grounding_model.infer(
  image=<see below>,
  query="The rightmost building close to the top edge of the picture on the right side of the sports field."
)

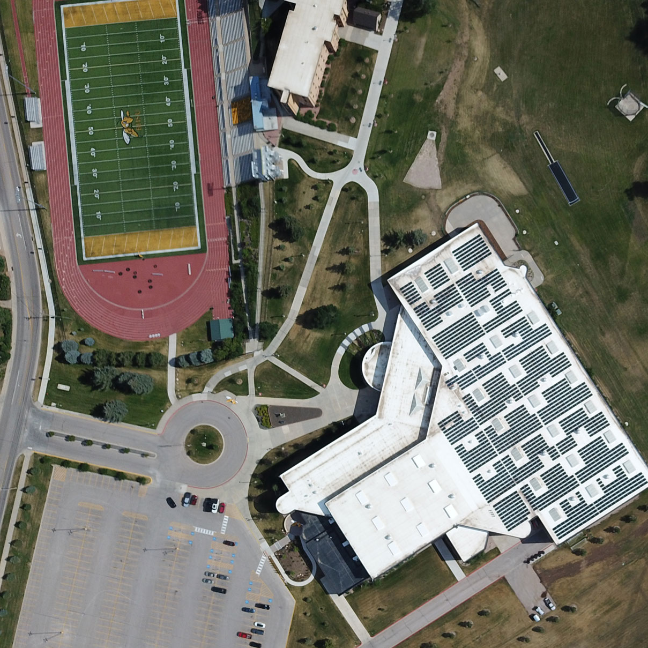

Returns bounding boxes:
[353,6,382,35]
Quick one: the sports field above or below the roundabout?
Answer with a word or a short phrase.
above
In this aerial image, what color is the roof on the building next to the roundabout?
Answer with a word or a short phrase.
white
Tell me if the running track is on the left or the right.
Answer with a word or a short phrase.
left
